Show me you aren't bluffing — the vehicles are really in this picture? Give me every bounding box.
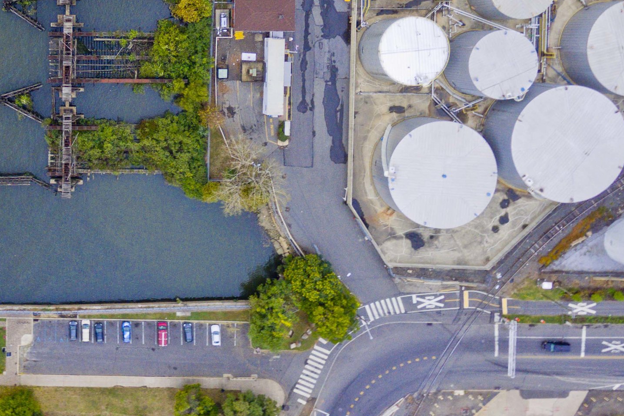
[122,320,132,343]
[211,325,221,346]
[69,320,79,341]
[94,322,104,344]
[184,323,193,343]
[81,319,90,343]
[157,322,168,348]
[542,342,571,353]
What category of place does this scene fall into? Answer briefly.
industrial area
